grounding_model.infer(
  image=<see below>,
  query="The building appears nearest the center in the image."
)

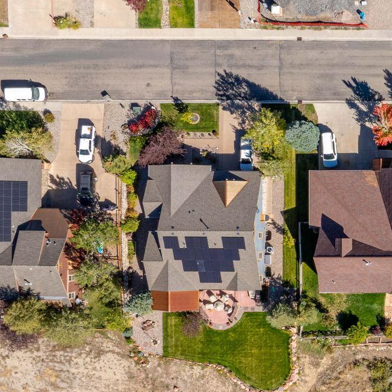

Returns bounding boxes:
[139,165,266,314]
